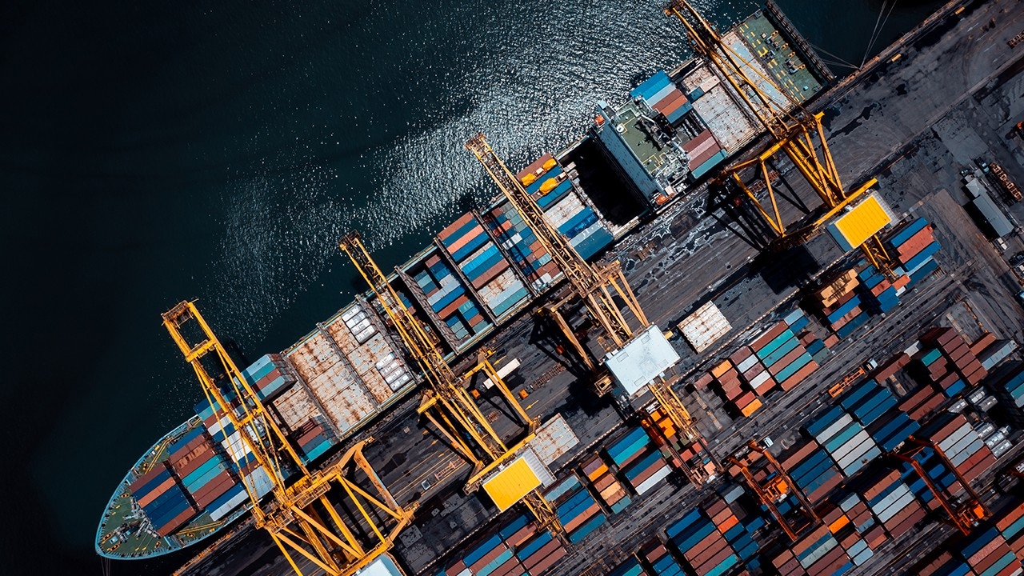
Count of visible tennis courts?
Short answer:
none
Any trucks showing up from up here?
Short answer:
Yes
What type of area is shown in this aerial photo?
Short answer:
port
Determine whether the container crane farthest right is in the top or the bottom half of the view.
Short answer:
bottom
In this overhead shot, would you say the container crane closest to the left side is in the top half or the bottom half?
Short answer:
bottom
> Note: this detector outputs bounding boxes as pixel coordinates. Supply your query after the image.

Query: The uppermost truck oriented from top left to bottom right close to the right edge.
[971,155,998,185]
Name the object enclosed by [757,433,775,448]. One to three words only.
vehicle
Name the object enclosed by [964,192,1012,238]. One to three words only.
shed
